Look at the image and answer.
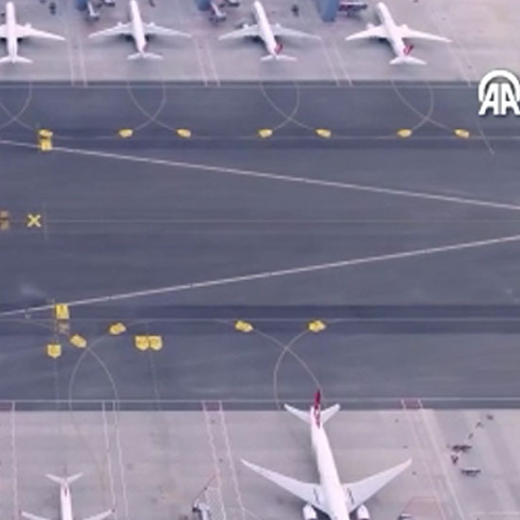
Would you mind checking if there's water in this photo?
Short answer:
No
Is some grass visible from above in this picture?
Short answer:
No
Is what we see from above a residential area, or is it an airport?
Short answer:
airport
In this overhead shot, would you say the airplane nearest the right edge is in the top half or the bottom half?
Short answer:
top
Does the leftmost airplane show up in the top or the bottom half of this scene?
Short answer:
top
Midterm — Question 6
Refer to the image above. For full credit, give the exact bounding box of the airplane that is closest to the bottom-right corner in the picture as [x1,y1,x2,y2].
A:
[242,399,411,520]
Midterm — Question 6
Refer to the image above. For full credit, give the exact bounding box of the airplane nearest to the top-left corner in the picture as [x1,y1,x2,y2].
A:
[0,0,65,61]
